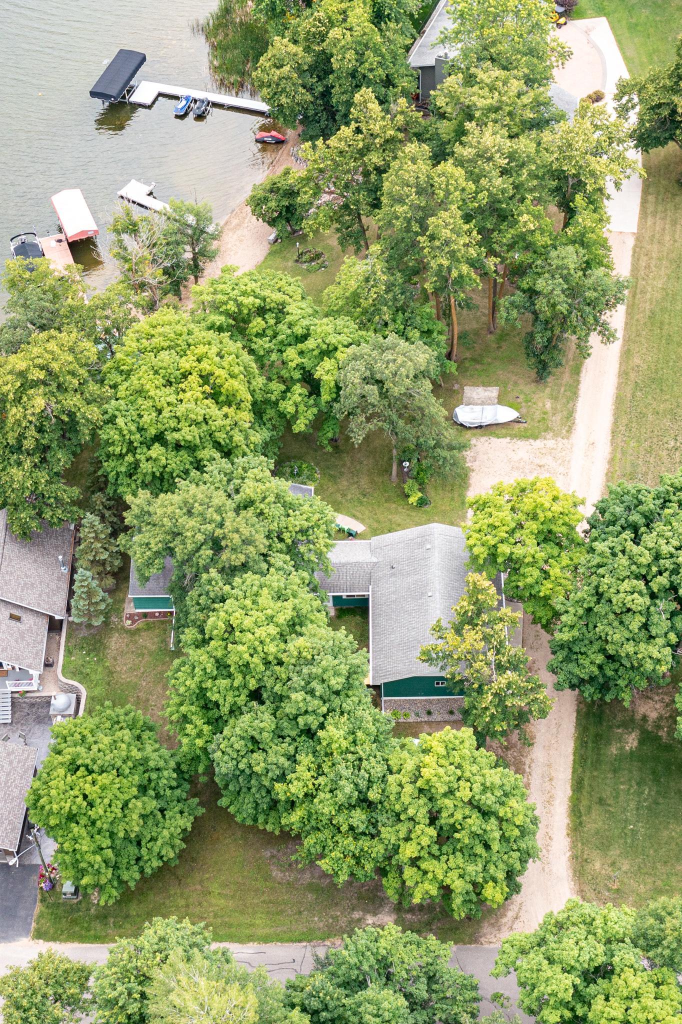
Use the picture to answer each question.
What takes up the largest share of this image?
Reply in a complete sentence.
The scene is dominated by trees.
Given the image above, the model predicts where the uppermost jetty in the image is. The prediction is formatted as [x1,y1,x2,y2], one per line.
[128,82,275,117]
